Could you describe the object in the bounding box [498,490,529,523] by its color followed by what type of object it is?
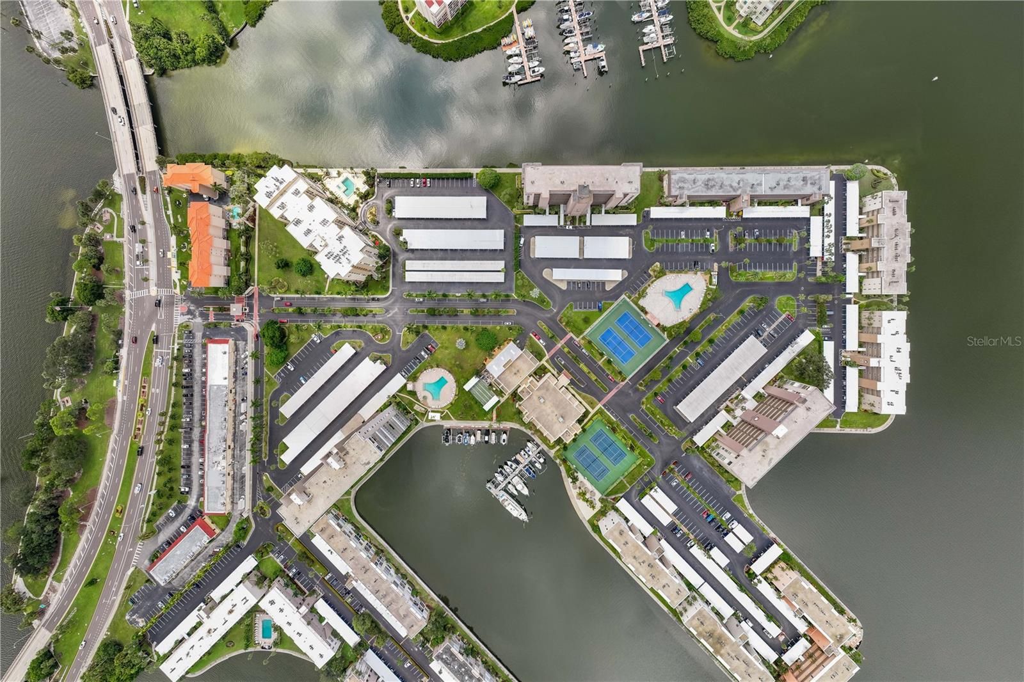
white boat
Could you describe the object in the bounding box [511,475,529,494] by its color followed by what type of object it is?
white boat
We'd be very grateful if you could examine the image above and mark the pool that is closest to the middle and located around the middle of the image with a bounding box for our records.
[416,367,456,408]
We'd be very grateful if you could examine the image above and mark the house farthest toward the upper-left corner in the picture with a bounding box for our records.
[163,162,226,193]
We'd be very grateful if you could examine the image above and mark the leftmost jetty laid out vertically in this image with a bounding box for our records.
[513,7,541,85]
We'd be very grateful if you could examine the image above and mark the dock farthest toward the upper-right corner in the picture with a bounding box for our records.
[639,0,674,66]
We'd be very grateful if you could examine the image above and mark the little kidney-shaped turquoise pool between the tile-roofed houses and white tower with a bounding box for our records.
[225,205,243,223]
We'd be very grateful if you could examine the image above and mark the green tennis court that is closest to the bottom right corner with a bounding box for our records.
[563,419,638,494]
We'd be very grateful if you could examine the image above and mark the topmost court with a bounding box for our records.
[584,298,667,377]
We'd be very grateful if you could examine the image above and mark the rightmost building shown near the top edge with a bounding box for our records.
[728,0,781,38]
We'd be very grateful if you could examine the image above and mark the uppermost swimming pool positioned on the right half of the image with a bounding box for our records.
[640,272,707,325]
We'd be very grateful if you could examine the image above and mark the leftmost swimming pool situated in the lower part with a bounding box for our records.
[254,612,280,645]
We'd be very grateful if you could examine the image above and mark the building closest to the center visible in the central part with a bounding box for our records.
[487,341,539,396]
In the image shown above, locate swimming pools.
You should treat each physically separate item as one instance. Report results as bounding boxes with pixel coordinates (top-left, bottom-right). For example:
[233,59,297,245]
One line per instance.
[325,172,368,204]
[416,367,456,408]
[254,612,280,645]
[640,272,707,325]
[225,205,243,223]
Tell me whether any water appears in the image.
Yes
